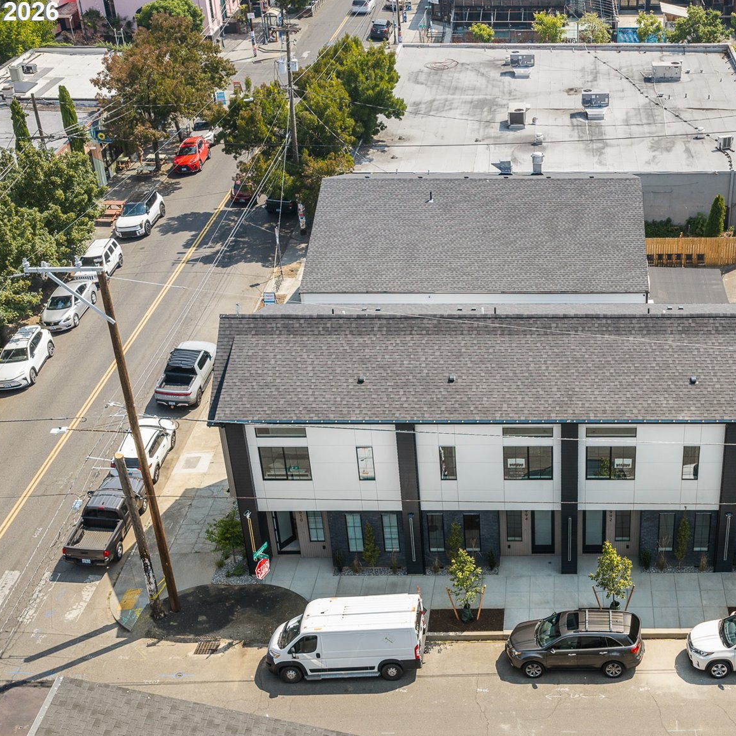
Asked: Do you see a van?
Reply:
Yes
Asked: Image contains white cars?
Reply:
Yes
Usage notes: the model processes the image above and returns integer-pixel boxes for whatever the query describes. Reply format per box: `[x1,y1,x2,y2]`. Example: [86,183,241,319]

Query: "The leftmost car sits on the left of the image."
[0,329,58,389]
